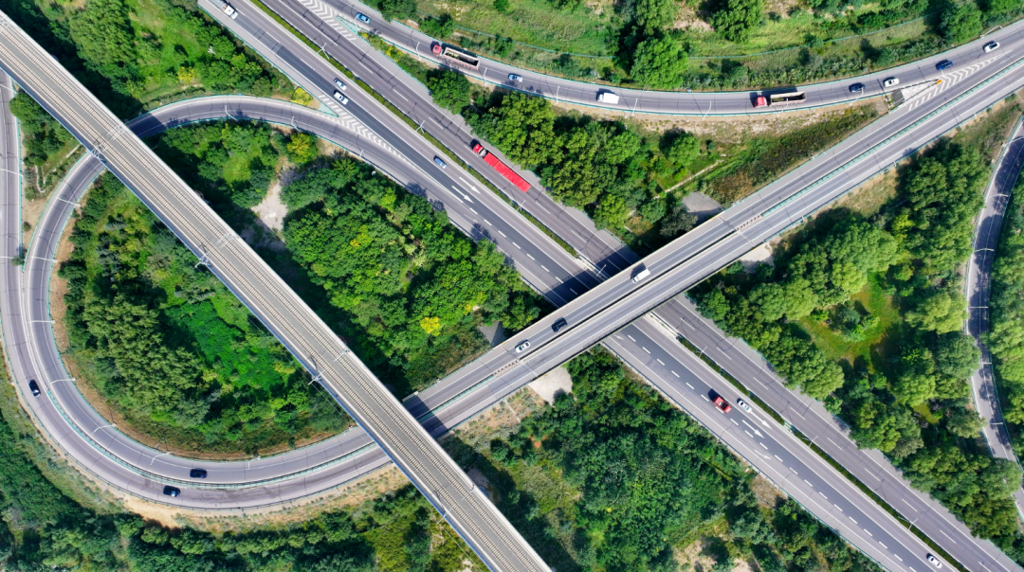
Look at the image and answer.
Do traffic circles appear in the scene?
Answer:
No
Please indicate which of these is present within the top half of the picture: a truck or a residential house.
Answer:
truck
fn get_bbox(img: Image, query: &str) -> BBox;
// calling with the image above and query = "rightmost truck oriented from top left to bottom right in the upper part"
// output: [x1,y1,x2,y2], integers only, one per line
[473,141,536,195]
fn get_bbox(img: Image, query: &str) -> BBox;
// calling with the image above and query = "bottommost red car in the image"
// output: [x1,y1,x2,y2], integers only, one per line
[713,396,731,412]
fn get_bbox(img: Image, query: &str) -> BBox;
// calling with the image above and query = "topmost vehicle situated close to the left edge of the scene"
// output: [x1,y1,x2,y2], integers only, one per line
[29,379,41,396]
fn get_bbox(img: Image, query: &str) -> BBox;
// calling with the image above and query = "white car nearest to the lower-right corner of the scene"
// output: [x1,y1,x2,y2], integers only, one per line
[925,554,941,568]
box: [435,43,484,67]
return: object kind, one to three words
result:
truck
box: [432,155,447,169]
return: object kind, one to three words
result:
car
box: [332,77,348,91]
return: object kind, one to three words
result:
car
